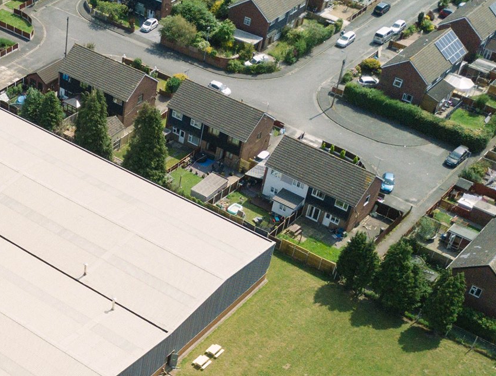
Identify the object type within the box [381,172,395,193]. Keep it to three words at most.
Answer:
car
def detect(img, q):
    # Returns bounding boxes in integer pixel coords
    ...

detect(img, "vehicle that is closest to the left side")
[140,18,160,32]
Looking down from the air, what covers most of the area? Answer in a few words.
buildings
